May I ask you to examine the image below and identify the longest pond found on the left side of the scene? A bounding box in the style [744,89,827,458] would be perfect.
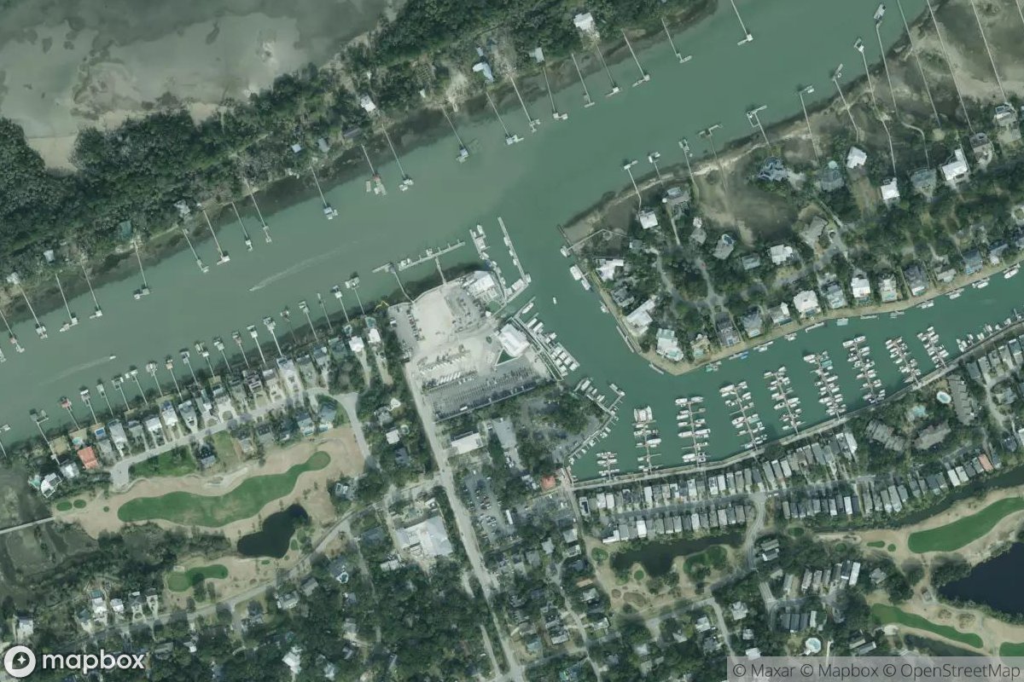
[238,504,309,557]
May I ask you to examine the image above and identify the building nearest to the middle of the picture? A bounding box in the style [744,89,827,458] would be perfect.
[498,324,530,357]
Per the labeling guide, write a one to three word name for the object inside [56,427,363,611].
golf course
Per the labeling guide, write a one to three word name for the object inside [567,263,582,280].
boat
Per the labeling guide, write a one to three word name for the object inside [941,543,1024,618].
pond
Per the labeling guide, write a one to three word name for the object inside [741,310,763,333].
house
